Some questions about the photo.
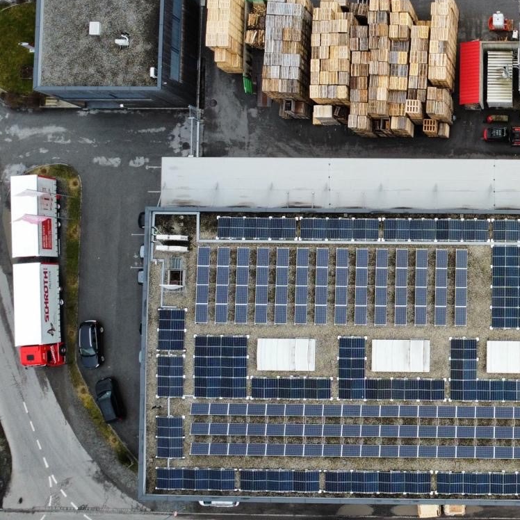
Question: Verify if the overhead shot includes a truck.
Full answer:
Yes, there is a truck in the image.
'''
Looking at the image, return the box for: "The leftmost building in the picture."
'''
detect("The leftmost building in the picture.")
[35,0,200,109]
